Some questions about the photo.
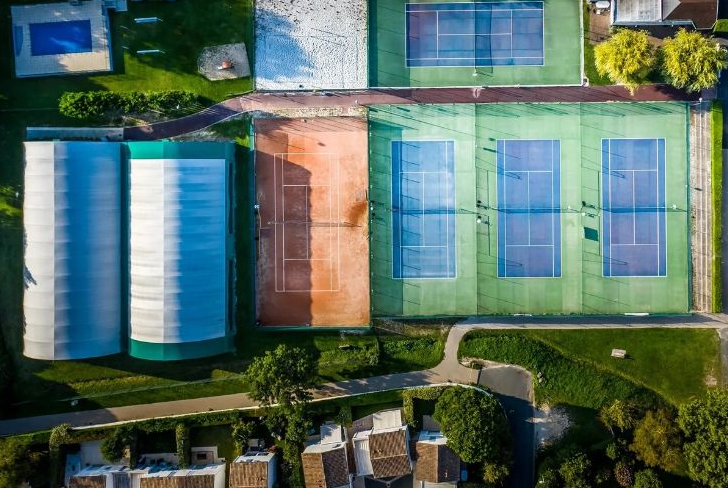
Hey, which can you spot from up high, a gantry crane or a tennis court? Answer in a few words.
tennis court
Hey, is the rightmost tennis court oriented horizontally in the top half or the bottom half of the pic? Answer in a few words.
top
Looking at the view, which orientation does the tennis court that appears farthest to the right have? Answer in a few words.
from top to bottom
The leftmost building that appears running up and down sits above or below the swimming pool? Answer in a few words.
below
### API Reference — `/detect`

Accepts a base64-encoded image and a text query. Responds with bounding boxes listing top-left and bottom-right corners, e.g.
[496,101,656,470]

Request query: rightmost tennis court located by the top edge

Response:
[369,0,582,87]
